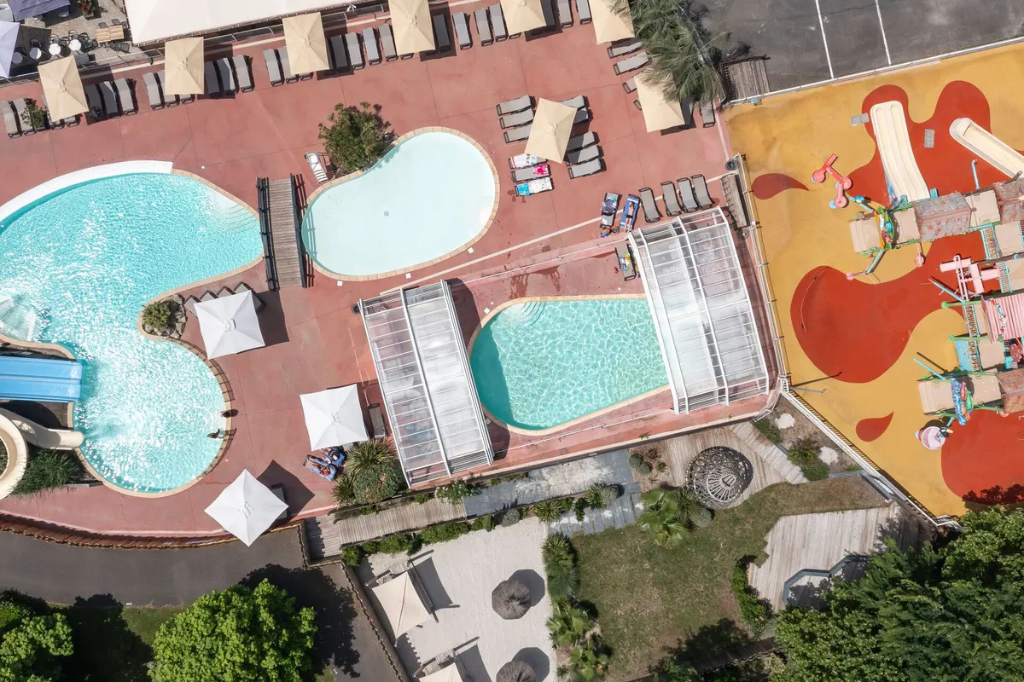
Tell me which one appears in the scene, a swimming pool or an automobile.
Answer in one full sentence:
The image shows a swimming pool.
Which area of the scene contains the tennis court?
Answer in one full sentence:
The tennis court is in the top right part of the image.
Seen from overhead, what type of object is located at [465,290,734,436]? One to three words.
swimming pool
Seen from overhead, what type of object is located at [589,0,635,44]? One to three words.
umbrella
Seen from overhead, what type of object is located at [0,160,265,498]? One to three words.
swimming pool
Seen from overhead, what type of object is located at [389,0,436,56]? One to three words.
umbrella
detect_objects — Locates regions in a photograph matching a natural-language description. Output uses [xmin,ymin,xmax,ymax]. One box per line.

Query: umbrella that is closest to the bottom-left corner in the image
[206,469,289,552]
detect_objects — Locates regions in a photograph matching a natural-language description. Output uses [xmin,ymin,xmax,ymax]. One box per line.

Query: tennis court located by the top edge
[680,0,1024,103]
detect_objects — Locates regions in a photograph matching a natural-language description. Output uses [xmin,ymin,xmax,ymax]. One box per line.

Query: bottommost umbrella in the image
[496,656,537,682]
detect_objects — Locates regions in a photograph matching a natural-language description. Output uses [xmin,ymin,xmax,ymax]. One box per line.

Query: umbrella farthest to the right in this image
[634,68,684,133]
